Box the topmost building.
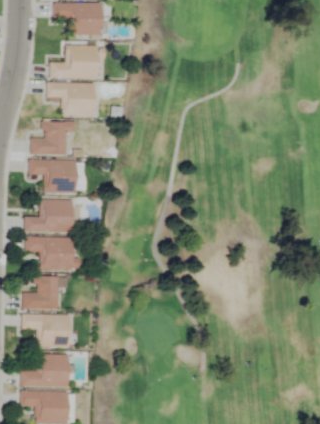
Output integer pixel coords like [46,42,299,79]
[52,2,103,35]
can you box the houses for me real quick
[24,236,80,273]
[48,45,100,80]
[52,2,103,35]
[20,354,69,388]
[46,83,98,117]
[22,278,68,310]
[20,314,72,350]
[20,392,70,424]
[30,122,75,154]
[24,200,73,232]
[28,160,76,192]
